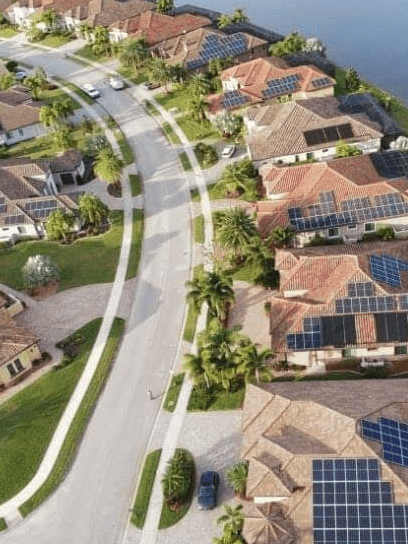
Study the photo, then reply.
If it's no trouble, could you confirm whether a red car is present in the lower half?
No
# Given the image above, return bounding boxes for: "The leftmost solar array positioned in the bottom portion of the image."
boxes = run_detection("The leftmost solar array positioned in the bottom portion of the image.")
[289,316,321,350]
